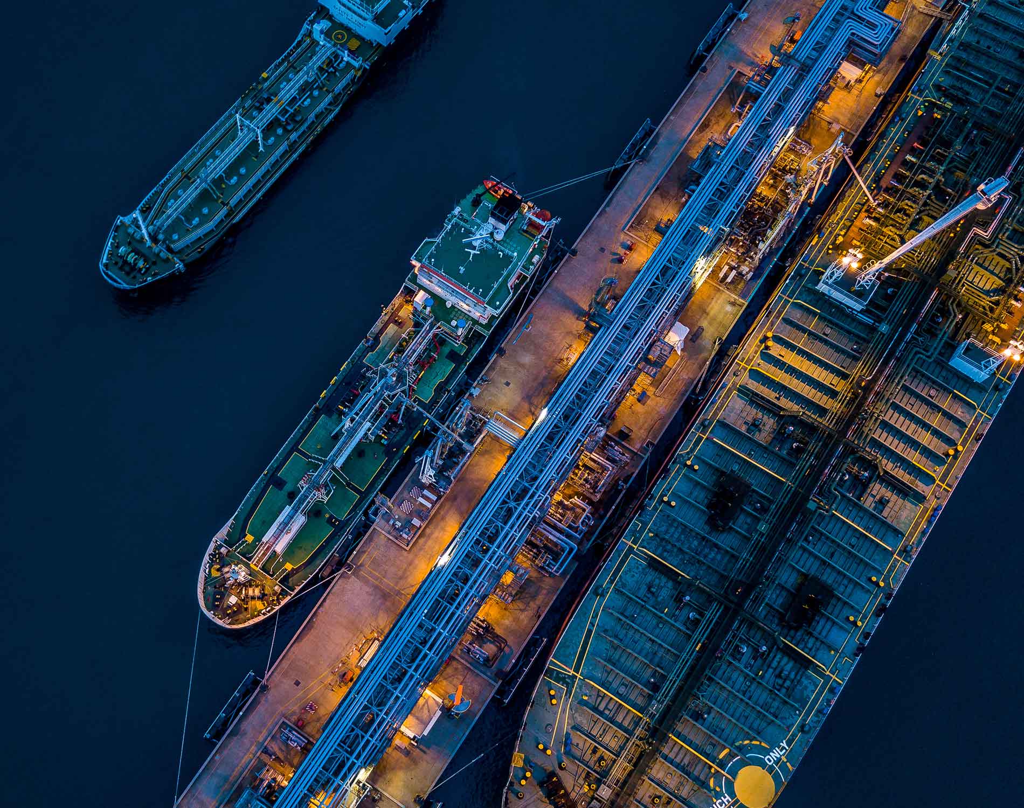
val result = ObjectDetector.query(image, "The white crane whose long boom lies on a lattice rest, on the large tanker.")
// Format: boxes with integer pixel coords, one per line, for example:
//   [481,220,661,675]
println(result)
[854,167,1021,281]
